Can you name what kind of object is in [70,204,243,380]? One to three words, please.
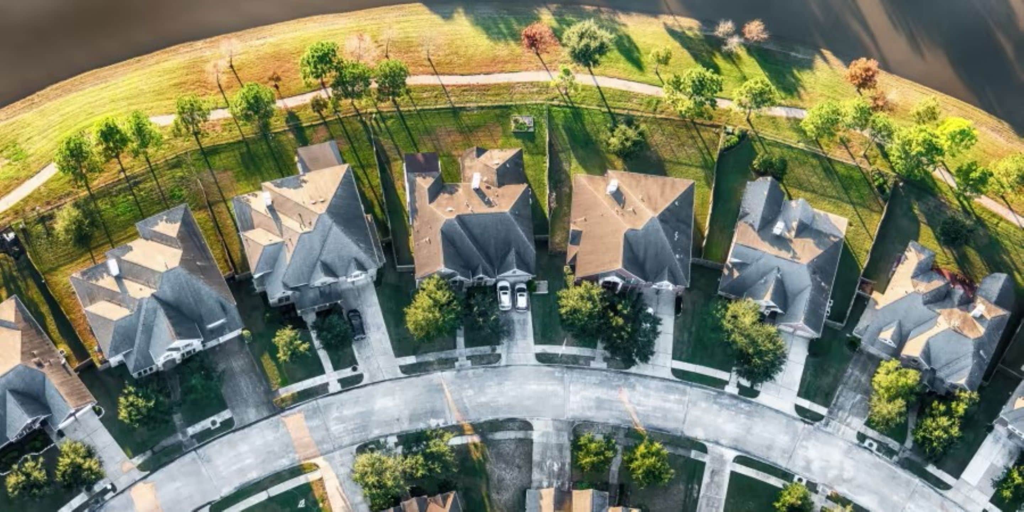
house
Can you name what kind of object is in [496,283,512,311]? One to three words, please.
car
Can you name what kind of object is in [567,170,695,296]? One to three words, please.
house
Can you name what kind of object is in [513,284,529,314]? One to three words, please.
car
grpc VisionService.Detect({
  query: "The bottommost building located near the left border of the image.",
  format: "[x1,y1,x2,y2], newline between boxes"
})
[0,294,98,444]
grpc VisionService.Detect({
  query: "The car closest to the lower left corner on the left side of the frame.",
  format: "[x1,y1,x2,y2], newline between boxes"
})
[347,308,368,339]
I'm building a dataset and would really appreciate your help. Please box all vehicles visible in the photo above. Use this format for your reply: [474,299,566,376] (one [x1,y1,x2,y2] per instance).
[513,284,529,314]
[496,283,512,311]
[347,308,368,339]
